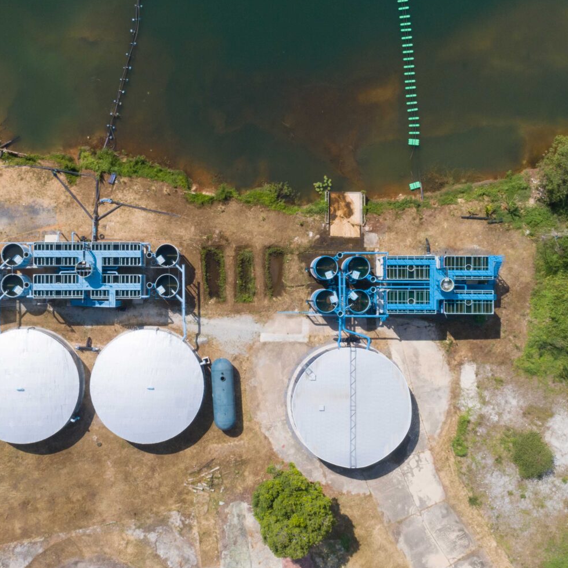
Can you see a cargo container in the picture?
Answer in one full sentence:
No, I can't see a single cargo container in this photo.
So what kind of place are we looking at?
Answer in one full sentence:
The picture captures an industrial area.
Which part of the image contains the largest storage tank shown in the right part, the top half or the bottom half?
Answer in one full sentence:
The largest storage tank shown in the right part sits in the bottom half of the picture.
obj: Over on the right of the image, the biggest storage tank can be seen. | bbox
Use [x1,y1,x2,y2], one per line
[287,343,411,469]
